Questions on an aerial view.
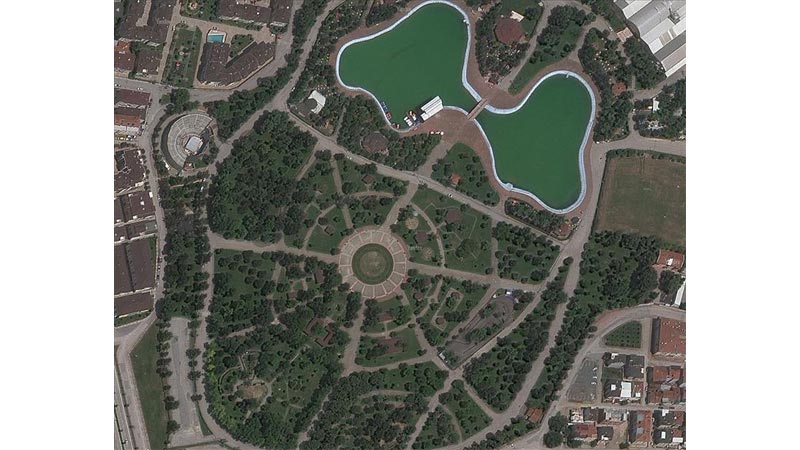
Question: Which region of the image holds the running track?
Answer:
bottom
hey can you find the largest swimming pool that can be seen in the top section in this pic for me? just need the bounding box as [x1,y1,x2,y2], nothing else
[206,30,227,44]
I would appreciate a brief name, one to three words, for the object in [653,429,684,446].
house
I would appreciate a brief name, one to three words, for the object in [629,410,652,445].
building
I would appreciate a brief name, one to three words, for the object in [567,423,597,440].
house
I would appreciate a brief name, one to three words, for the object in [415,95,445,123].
building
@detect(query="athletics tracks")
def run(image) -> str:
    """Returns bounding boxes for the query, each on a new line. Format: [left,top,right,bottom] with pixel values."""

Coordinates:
[445,295,515,366]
